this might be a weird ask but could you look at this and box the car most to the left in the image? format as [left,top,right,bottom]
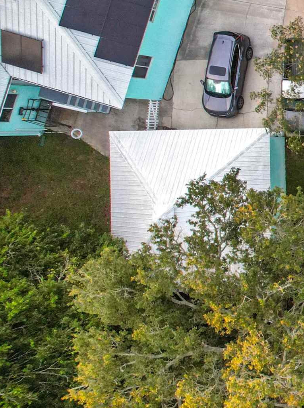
[203,33,253,123]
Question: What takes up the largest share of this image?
trees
